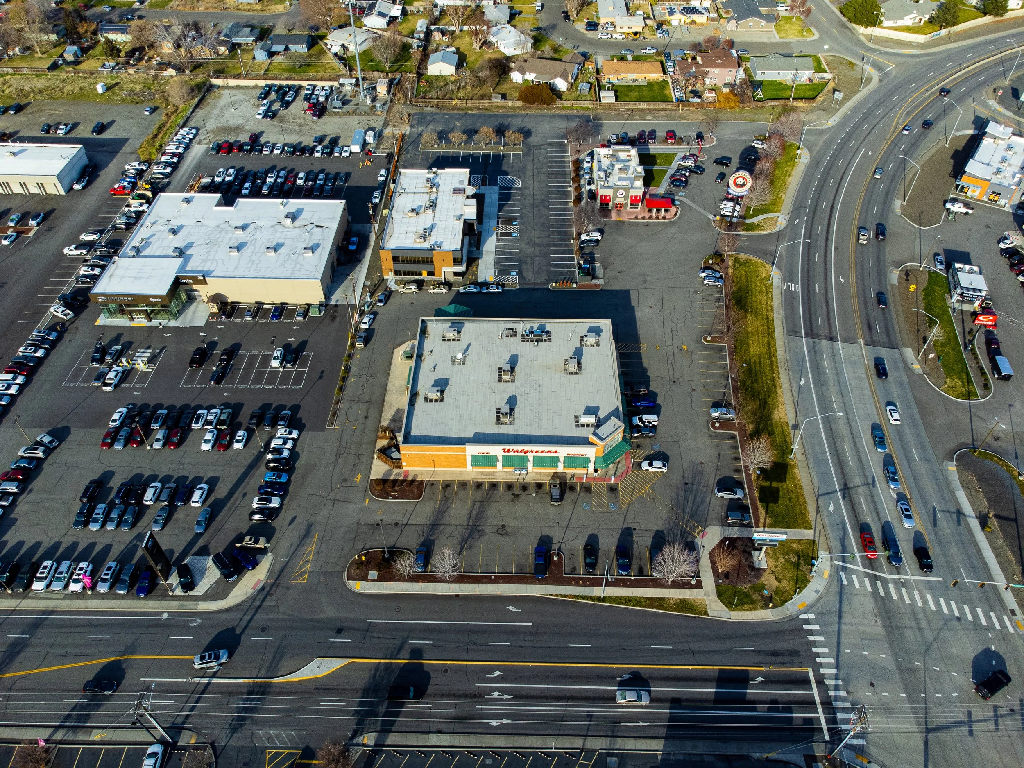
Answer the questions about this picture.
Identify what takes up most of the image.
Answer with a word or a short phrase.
paved ground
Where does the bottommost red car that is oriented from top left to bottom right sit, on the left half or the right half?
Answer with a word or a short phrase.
right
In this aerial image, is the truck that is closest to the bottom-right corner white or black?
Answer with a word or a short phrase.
black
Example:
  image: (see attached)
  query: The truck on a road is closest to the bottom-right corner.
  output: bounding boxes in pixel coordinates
[973,670,1011,703]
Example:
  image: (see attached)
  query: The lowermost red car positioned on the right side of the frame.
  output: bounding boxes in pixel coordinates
[858,533,880,560]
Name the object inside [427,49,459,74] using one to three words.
building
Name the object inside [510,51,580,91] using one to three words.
house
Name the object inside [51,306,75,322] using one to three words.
vehicle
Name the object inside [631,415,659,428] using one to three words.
vehicle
